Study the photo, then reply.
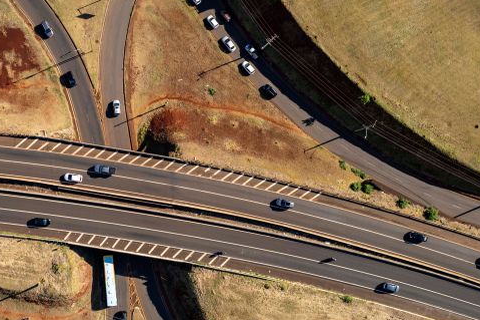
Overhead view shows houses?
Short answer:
No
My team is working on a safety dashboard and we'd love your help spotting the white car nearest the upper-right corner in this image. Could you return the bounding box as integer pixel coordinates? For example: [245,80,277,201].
[241,60,256,76]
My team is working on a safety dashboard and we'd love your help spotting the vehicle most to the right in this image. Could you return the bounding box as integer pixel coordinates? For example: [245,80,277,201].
[408,231,428,244]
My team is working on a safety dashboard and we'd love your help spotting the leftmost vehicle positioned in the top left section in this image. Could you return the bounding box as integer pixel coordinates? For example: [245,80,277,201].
[40,20,55,39]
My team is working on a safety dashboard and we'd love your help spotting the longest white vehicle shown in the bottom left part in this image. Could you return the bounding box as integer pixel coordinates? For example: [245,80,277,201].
[102,254,118,305]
